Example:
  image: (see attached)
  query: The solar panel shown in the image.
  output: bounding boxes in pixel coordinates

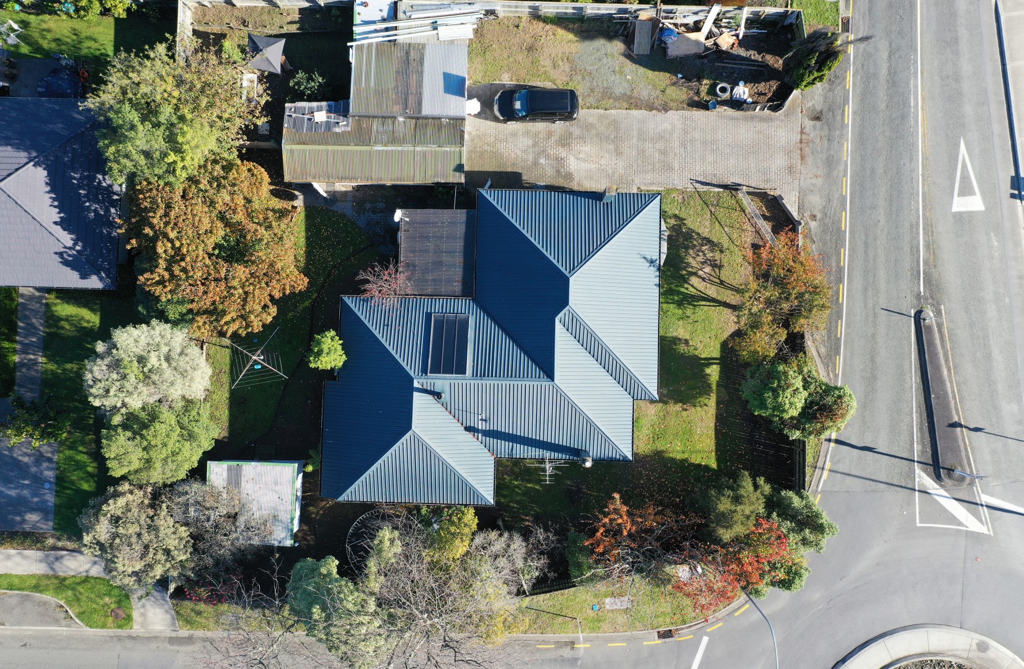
[427,314,476,375]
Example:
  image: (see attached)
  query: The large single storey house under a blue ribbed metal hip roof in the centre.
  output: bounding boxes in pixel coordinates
[319,181,665,507]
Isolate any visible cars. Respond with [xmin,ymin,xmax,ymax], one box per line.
[495,81,581,125]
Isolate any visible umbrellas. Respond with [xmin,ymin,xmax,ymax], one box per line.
[247,32,286,73]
